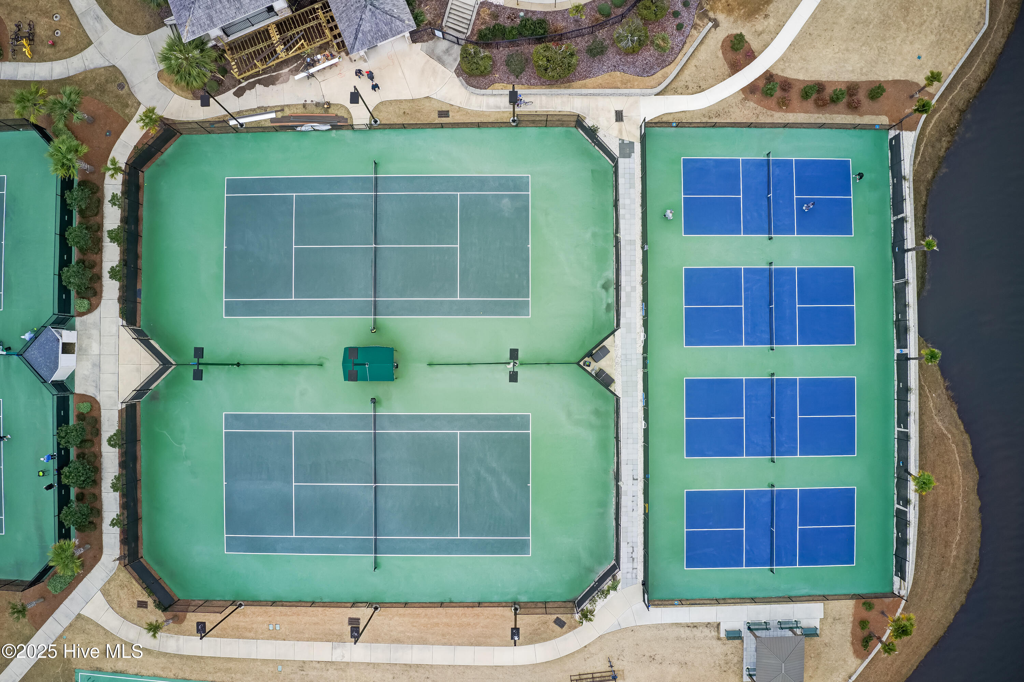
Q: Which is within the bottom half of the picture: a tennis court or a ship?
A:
tennis court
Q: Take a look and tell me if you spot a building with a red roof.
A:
No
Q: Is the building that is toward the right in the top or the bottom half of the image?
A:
bottom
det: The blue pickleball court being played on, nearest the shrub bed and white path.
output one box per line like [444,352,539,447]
[681,157,854,236]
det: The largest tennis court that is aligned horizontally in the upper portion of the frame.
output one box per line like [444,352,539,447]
[223,174,531,318]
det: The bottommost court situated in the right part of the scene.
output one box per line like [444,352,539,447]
[685,487,857,570]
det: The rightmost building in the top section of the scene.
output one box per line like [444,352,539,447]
[327,0,417,57]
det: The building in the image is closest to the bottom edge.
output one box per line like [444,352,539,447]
[750,629,807,682]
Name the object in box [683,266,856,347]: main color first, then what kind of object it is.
blue sports court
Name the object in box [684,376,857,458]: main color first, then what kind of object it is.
blue sports court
